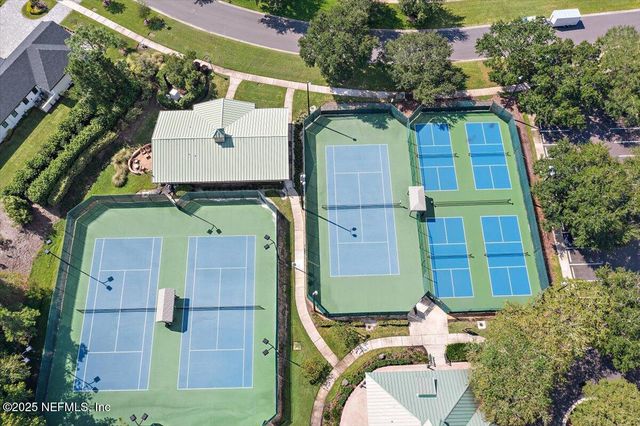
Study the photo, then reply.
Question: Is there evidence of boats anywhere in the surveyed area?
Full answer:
No, the scene contains no boat.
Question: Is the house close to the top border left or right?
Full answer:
It is on the left.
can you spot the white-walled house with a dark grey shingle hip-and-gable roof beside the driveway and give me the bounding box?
[0,20,83,142]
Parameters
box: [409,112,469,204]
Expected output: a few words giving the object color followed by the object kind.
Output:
blue sports court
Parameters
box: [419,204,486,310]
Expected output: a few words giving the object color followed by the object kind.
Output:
blue sports court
